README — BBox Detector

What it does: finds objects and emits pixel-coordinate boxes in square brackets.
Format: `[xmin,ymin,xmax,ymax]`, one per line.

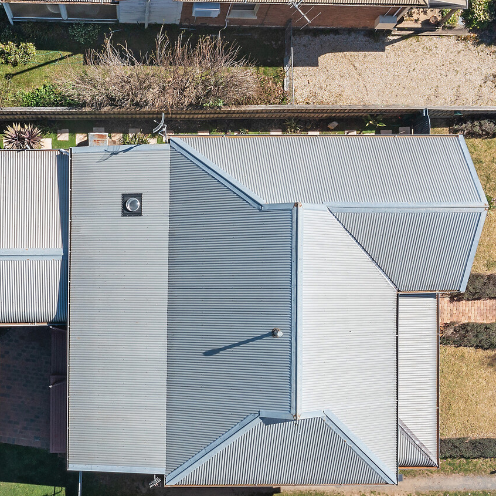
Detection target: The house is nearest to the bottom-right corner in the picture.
[64,131,491,491]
